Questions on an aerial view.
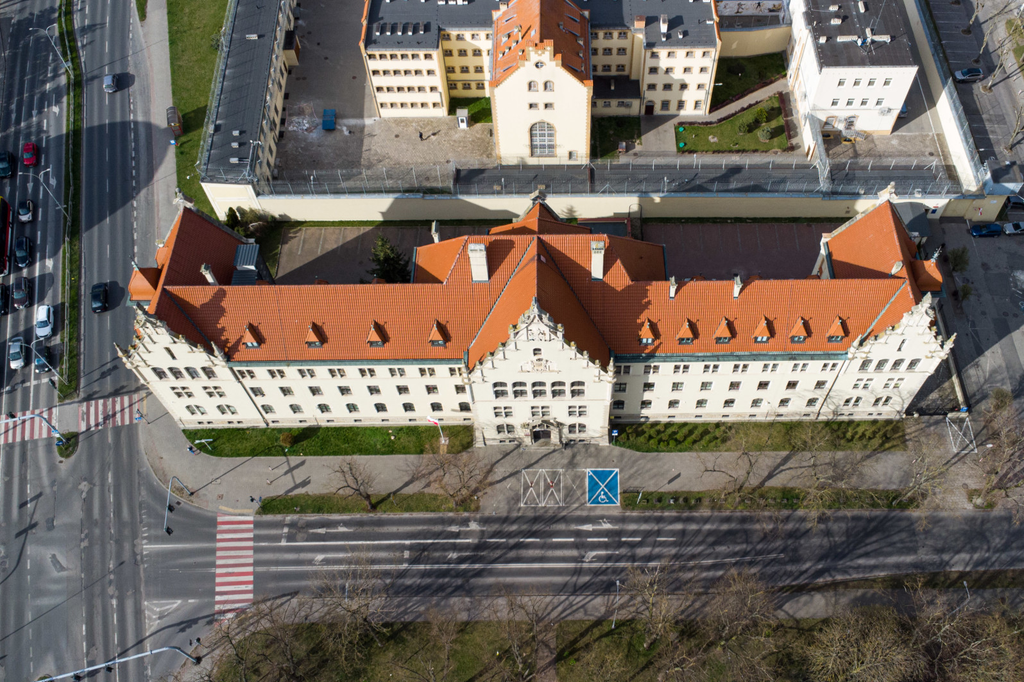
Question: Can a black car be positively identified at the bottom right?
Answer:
No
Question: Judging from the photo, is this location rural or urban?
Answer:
urban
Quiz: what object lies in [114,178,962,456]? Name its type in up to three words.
building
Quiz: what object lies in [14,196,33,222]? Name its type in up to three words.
car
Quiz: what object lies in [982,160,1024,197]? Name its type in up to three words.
building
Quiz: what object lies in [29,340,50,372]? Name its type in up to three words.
car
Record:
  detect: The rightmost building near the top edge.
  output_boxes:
[772,0,921,145]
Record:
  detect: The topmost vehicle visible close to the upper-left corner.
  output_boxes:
[100,70,117,91]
